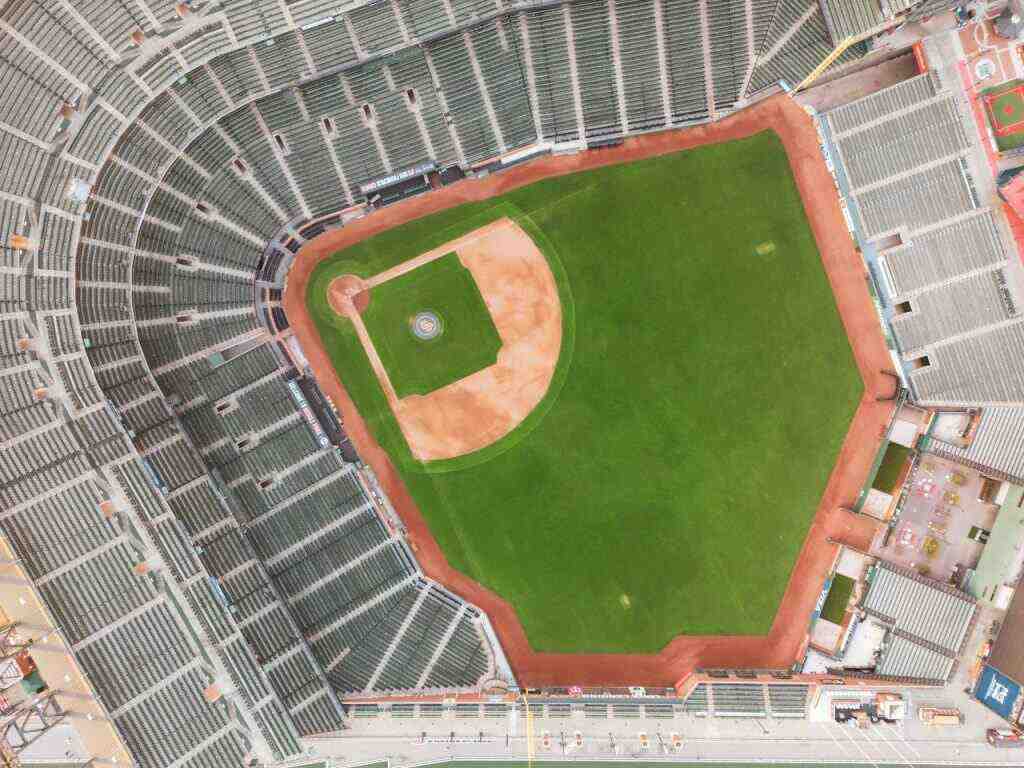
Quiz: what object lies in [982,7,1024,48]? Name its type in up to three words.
building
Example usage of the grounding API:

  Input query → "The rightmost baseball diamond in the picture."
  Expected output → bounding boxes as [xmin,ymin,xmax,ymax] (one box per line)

[982,76,1024,153]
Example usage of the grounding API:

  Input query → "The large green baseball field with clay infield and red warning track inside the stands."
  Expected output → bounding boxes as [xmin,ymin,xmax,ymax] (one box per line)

[284,94,904,687]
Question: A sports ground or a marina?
sports ground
